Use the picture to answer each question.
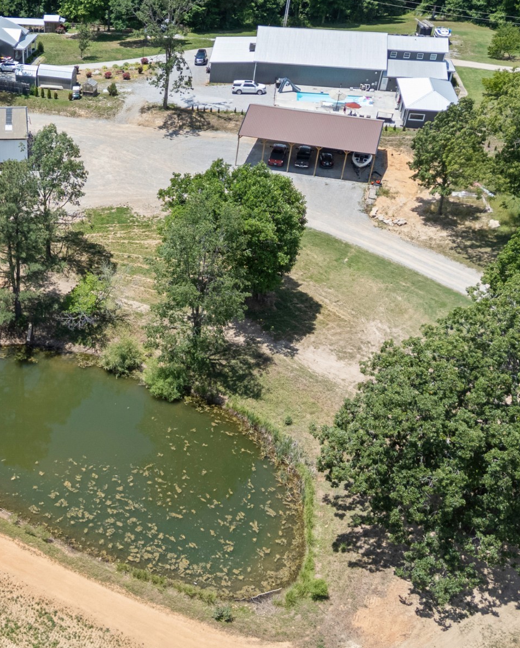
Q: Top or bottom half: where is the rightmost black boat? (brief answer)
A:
top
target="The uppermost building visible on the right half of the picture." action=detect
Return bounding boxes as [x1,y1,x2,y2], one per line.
[210,27,464,93]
